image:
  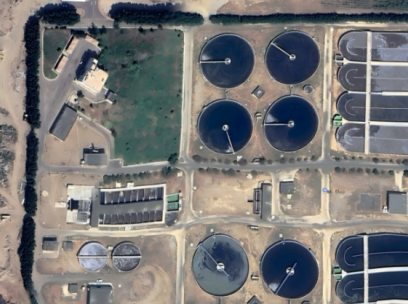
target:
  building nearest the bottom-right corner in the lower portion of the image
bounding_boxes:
[388,194,408,214]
